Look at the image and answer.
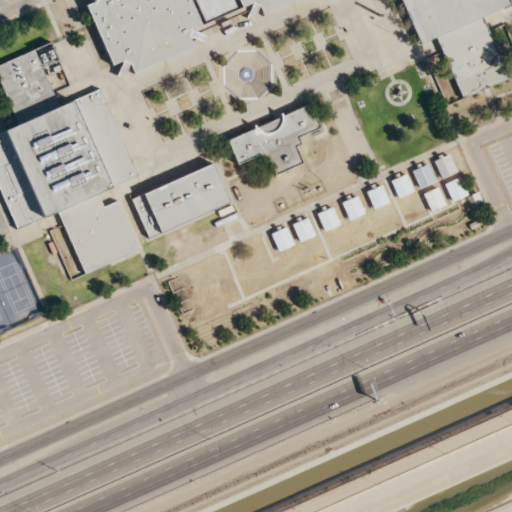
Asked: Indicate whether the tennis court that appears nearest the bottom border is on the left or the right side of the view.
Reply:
left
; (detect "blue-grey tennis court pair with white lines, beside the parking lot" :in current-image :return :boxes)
[0,251,38,328]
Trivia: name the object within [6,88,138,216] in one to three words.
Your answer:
building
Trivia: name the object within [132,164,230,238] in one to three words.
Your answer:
building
